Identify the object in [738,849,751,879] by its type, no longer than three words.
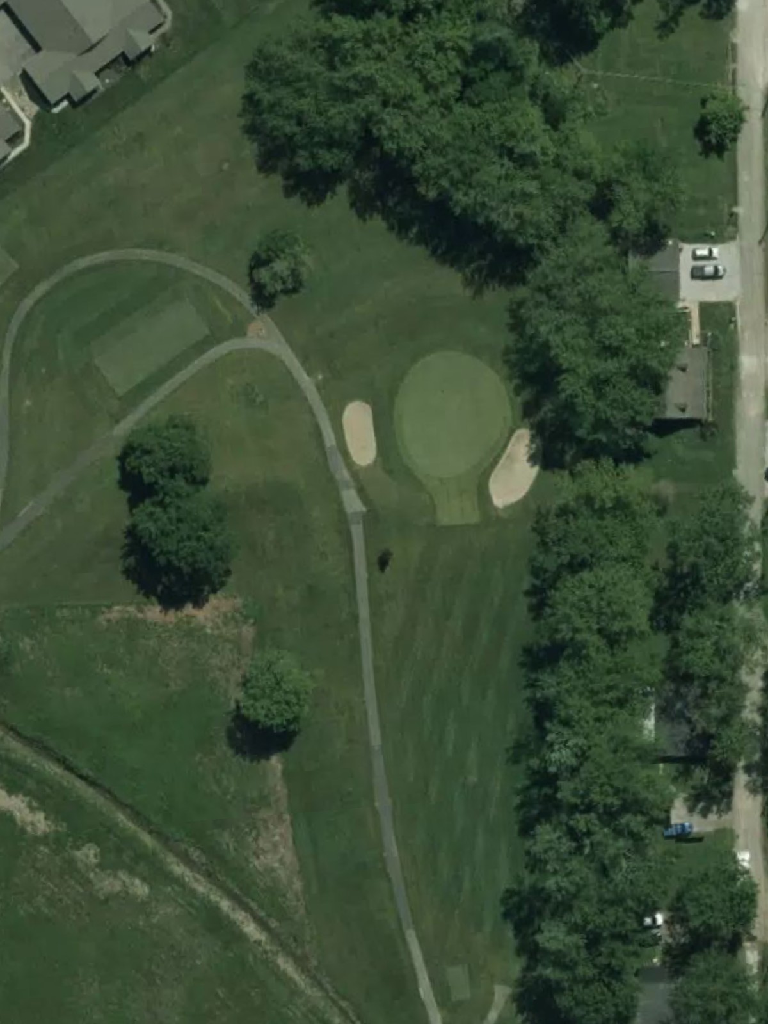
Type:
vehicle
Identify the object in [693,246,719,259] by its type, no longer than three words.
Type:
vehicle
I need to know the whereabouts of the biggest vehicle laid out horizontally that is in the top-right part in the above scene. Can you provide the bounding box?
[690,265,725,279]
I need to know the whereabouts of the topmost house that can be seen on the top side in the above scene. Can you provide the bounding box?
[6,0,165,104]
